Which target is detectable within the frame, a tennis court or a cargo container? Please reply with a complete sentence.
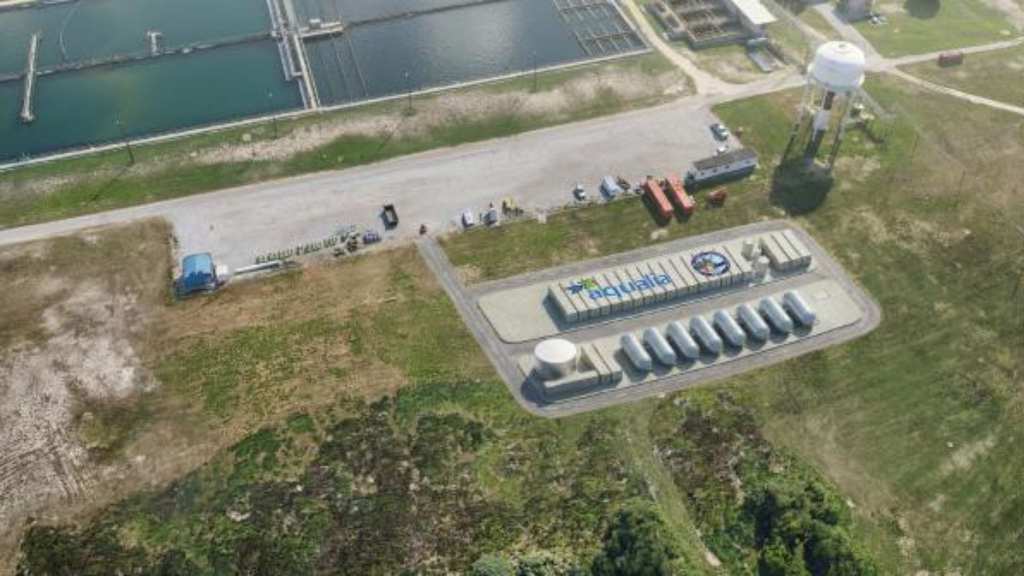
Looking from above, you can make out a cargo container.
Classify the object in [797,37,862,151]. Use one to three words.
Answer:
water tower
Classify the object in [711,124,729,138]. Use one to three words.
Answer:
vehicle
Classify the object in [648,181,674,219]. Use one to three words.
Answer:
shipping container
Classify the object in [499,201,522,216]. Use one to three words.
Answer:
work vehicle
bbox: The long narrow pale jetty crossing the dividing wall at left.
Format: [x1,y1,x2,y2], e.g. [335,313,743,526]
[21,31,38,121]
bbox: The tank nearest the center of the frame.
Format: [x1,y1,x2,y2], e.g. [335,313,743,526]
[534,337,578,382]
